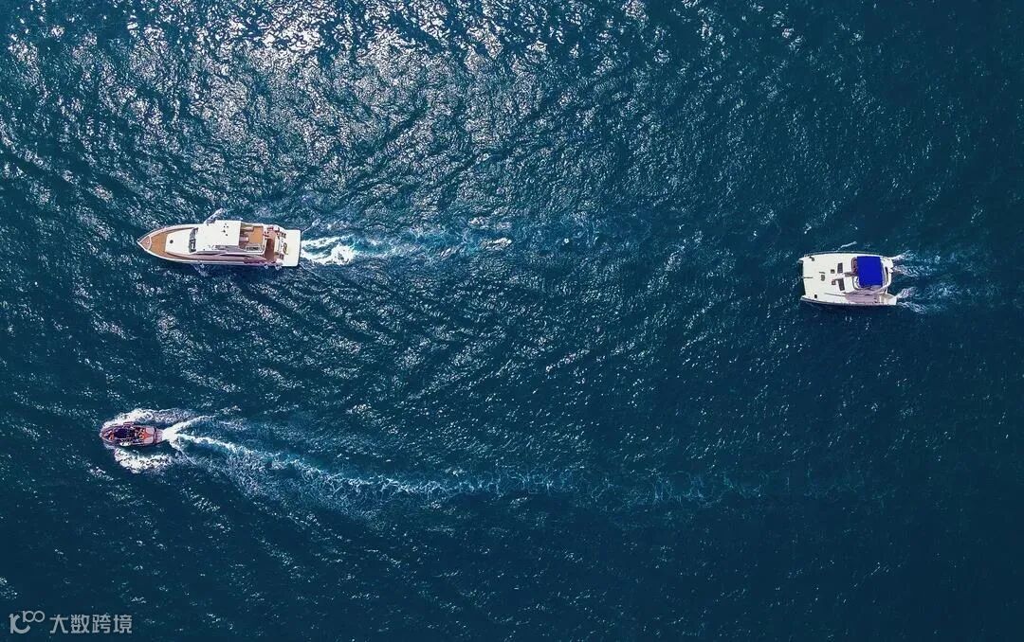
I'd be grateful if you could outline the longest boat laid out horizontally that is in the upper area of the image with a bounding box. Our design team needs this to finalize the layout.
[135,220,302,267]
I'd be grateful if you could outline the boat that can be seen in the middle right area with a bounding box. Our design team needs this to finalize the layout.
[793,251,896,310]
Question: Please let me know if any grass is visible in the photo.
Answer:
No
